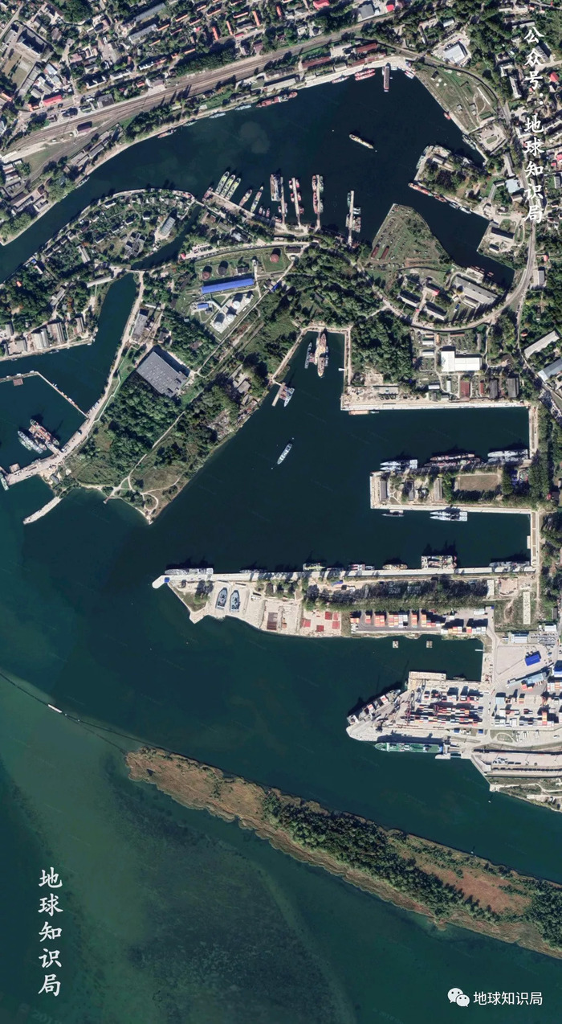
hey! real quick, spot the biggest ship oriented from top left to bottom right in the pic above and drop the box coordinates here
[31,420,59,446]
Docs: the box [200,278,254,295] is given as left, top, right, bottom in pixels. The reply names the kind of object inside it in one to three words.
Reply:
building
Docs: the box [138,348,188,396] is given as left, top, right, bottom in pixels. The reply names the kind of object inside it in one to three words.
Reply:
building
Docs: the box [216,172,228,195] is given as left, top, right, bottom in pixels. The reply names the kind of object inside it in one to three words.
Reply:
ship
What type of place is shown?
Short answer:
port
